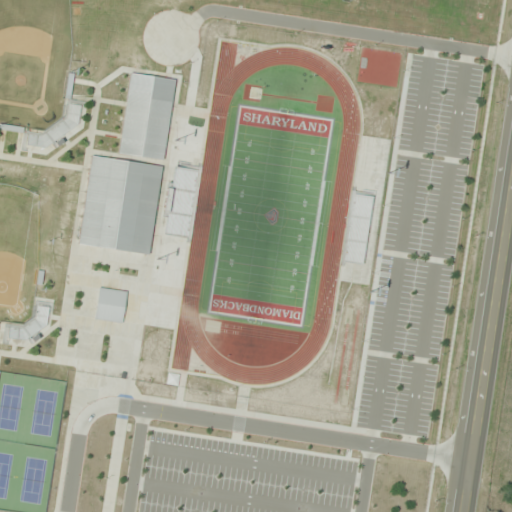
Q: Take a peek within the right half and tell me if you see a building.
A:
No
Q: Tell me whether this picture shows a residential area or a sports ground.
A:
sports ground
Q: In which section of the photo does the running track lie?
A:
center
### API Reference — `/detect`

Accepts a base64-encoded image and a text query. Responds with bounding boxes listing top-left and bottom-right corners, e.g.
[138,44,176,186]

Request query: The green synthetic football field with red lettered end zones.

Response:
[200,66,343,332]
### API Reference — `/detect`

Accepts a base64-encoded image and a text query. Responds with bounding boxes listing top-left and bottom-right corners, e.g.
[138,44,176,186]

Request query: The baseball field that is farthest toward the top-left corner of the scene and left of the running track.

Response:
[0,0,56,114]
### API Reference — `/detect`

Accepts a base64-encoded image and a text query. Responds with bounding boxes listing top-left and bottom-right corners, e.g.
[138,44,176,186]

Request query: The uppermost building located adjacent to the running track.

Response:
[120,73,178,159]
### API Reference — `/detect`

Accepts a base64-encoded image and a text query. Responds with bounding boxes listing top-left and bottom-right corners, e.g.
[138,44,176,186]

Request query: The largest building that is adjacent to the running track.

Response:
[79,156,164,253]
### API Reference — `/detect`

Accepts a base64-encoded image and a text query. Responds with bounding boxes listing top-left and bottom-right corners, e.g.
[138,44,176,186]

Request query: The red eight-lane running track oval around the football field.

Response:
[174,42,363,388]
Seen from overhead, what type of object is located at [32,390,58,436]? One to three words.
tennis court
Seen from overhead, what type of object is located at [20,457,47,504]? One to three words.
tennis court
